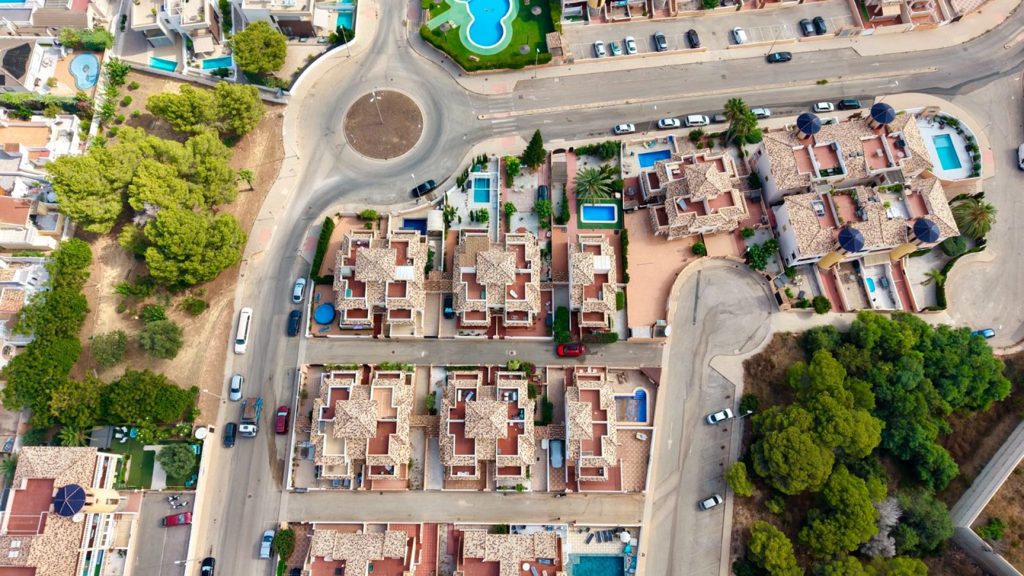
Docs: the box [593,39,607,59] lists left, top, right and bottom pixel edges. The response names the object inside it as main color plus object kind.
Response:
white car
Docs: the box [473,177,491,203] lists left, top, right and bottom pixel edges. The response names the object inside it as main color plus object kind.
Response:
blue swimming pool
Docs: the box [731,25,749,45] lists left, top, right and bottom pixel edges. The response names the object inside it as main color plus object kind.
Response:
white car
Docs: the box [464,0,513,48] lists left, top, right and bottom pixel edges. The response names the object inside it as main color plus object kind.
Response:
blue swimming pool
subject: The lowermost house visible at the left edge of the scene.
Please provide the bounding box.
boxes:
[0,447,129,576]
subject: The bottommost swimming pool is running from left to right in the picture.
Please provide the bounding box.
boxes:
[570,556,625,576]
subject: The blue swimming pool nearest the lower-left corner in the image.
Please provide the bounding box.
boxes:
[312,303,337,327]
